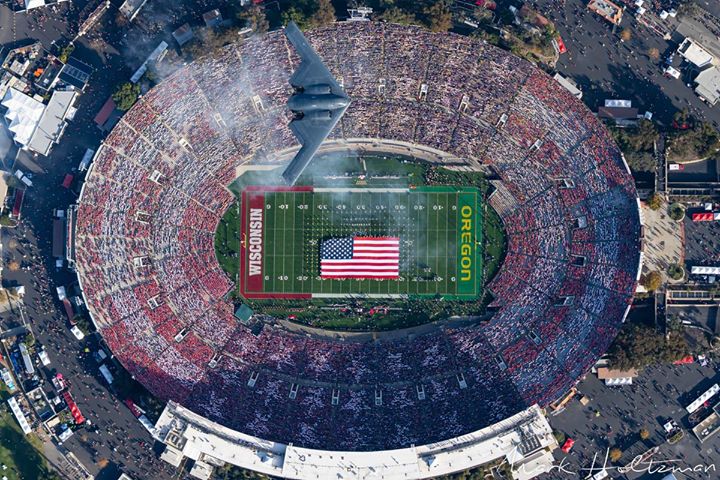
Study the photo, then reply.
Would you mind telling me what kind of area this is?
sports ground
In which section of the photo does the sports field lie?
center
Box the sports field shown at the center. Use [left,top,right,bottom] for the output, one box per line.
[241,187,482,298]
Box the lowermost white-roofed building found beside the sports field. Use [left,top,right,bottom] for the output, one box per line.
[156,399,559,480]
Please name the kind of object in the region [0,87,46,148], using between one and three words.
tent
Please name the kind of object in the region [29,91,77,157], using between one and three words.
building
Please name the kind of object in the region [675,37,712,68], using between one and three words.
building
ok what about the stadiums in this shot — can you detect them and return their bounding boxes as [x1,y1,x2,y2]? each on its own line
[73,19,646,448]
